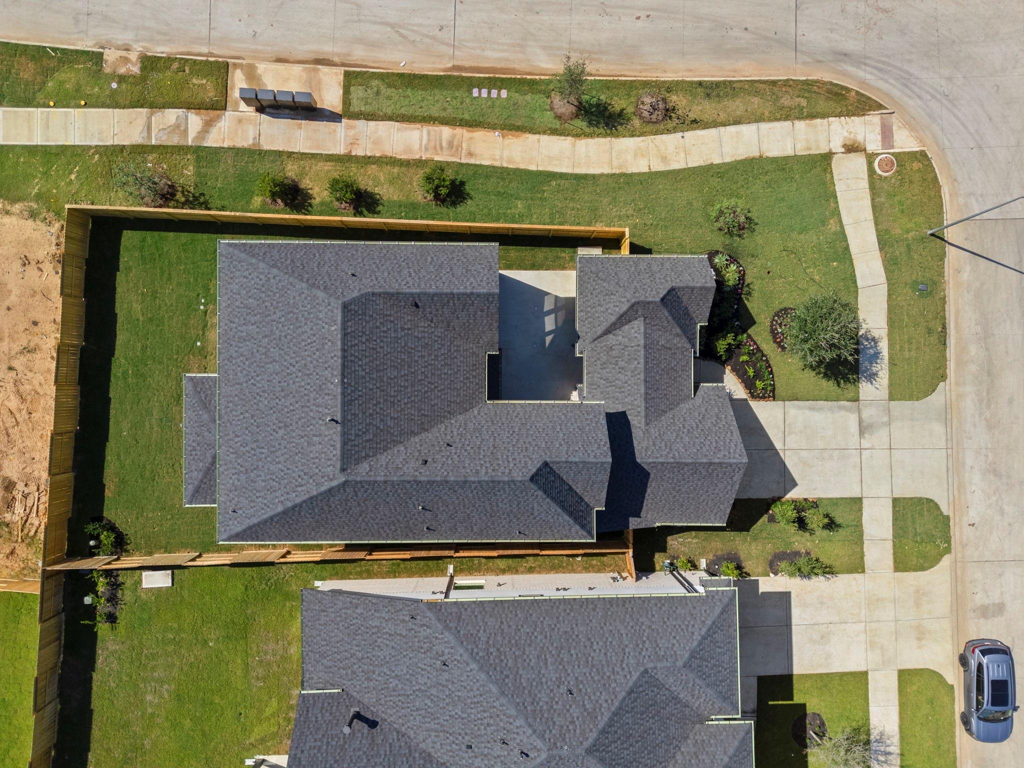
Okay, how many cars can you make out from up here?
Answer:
1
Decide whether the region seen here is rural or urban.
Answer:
urban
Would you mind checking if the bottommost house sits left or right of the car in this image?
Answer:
on the left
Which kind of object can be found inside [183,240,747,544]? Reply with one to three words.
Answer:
house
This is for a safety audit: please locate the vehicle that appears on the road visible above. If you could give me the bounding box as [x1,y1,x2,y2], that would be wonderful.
[956,636,1016,742]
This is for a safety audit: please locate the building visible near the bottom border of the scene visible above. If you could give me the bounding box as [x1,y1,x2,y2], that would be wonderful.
[292,567,756,768]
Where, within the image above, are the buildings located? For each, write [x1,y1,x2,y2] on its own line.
[183,240,747,544]
[292,567,756,768]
